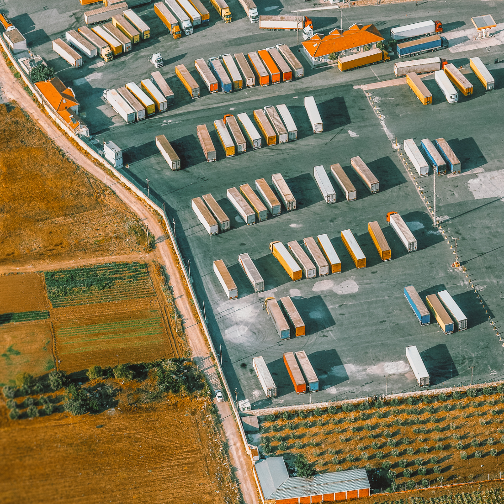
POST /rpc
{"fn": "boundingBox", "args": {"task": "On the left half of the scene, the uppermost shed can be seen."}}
[4,28,26,53]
